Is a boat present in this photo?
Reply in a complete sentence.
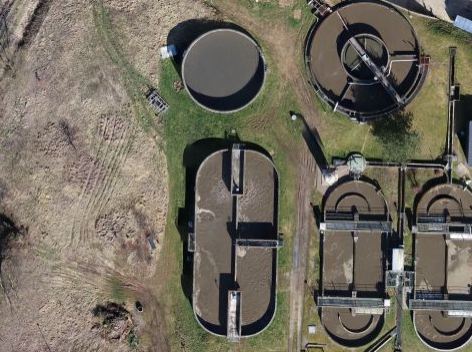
No, no boat can be seen from above.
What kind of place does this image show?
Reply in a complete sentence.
The picture captures an industrial area.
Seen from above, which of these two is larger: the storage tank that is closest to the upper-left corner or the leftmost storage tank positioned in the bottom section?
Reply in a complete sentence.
Compared with the storage tank that is closest to the upper-left corner, the leftmost storage tank positioned in the bottom section is the bigger one.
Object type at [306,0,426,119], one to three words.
storage tank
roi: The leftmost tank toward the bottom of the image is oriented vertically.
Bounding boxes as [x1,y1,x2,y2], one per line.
[188,144,284,343]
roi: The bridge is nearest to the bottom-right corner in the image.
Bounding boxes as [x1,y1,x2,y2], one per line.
[413,294,472,319]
